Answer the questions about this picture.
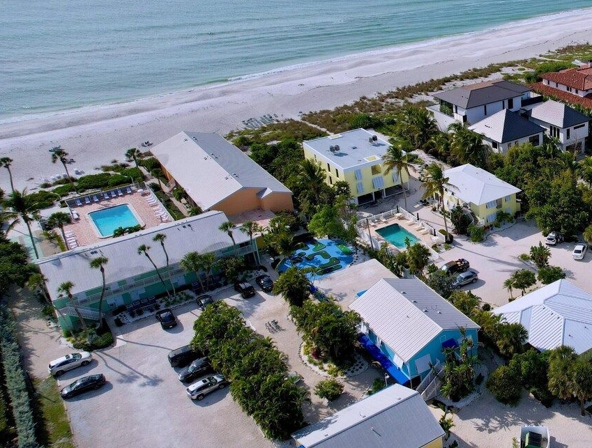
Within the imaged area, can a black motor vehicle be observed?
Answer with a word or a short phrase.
Yes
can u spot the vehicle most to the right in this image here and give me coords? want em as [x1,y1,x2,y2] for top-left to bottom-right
[573,243,589,261]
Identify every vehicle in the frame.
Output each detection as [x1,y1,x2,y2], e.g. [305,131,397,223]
[192,291,210,310]
[59,372,107,399]
[573,243,589,261]
[232,280,256,299]
[154,307,177,329]
[254,275,276,292]
[161,342,208,367]
[184,375,229,399]
[173,356,209,380]
[47,352,93,375]
[542,228,568,245]
[455,266,480,287]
